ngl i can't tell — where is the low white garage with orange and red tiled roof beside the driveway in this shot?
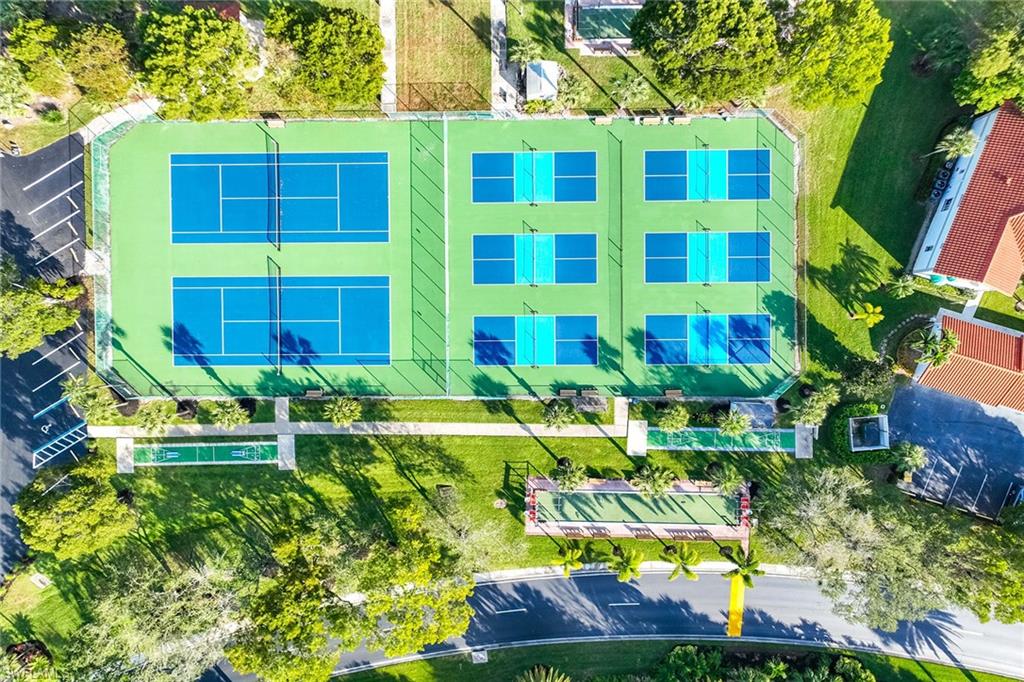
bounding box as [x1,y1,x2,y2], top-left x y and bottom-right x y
[908,307,1024,412]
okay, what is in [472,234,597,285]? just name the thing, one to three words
sports court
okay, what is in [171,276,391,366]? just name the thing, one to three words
tennis court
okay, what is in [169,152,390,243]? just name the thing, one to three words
tennis court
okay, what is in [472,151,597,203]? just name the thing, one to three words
sports court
